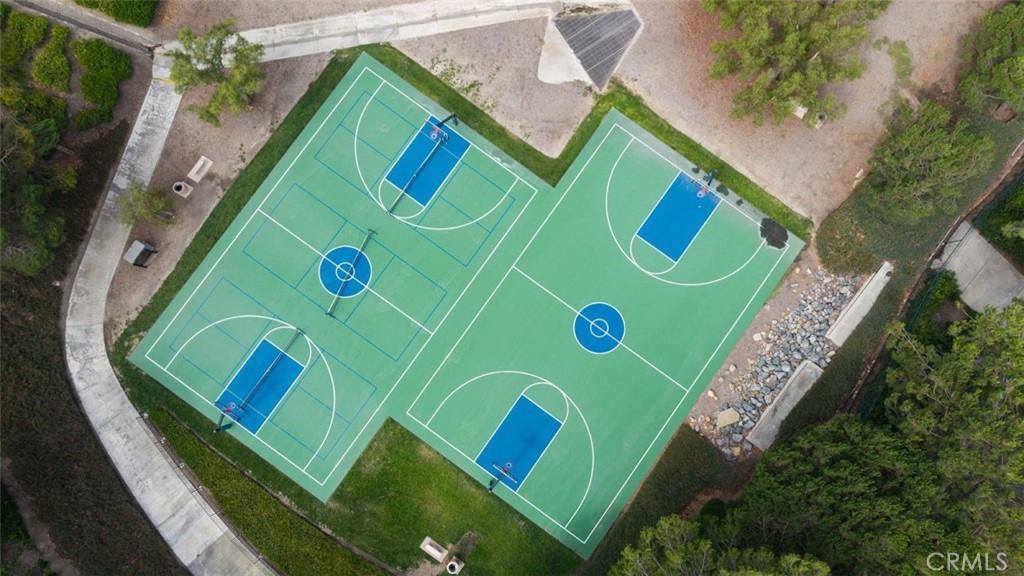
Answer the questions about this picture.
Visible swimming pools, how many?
0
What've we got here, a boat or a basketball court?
basketball court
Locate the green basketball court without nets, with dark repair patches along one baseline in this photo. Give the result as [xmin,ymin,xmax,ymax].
[389,107,805,559]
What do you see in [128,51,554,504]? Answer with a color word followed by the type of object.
green basketball court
